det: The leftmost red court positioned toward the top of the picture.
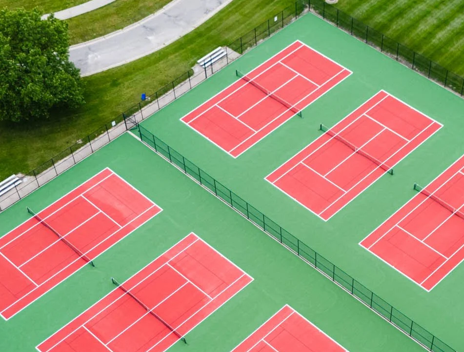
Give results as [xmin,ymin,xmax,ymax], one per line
[179,40,353,158]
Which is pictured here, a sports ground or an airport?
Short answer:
sports ground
